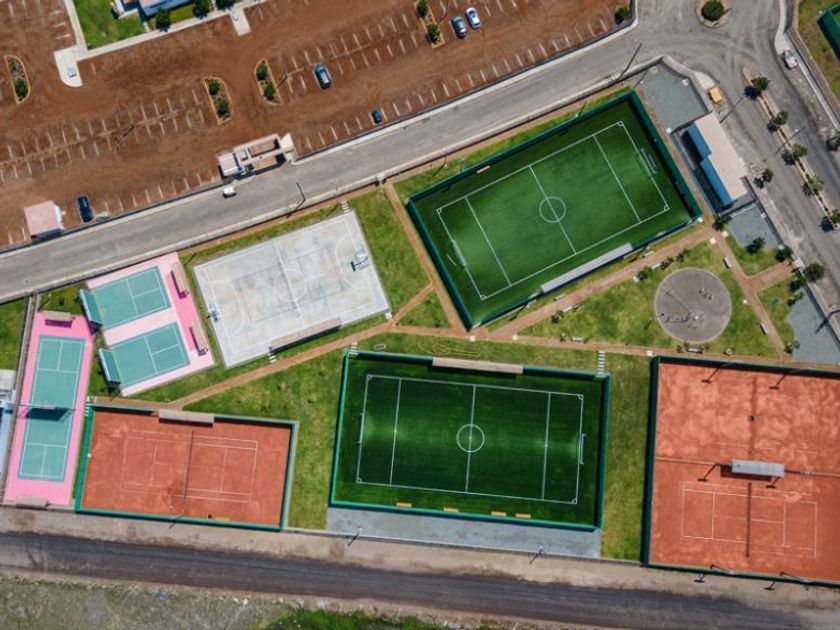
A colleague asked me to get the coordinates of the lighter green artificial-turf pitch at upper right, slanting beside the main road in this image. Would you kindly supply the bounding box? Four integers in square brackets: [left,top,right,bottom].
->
[413,98,694,326]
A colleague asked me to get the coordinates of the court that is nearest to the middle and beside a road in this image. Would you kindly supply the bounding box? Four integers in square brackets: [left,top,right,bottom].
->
[194,210,390,367]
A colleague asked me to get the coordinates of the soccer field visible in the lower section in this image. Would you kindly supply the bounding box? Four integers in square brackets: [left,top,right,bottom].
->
[335,354,605,526]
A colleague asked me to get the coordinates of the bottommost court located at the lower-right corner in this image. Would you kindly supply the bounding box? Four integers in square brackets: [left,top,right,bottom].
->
[655,459,840,582]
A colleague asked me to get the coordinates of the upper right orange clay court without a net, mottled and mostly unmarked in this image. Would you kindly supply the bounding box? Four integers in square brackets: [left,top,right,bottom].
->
[660,364,840,475]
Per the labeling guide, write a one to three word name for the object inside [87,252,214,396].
sports court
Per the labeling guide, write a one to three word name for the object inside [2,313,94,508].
sports court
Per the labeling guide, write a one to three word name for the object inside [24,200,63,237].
building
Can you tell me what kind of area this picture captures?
sports ground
